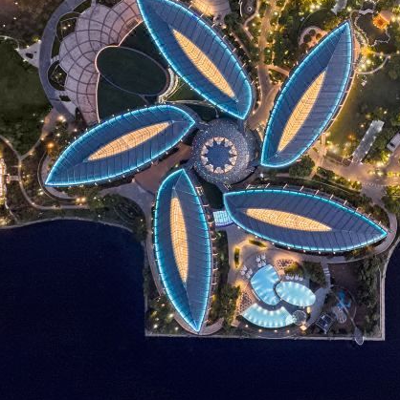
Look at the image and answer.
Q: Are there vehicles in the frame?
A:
No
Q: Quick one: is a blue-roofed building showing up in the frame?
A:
Yes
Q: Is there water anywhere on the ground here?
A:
Yes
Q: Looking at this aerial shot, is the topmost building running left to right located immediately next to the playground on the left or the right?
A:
right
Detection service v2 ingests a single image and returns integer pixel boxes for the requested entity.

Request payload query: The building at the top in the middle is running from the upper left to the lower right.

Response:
[133,0,255,122]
